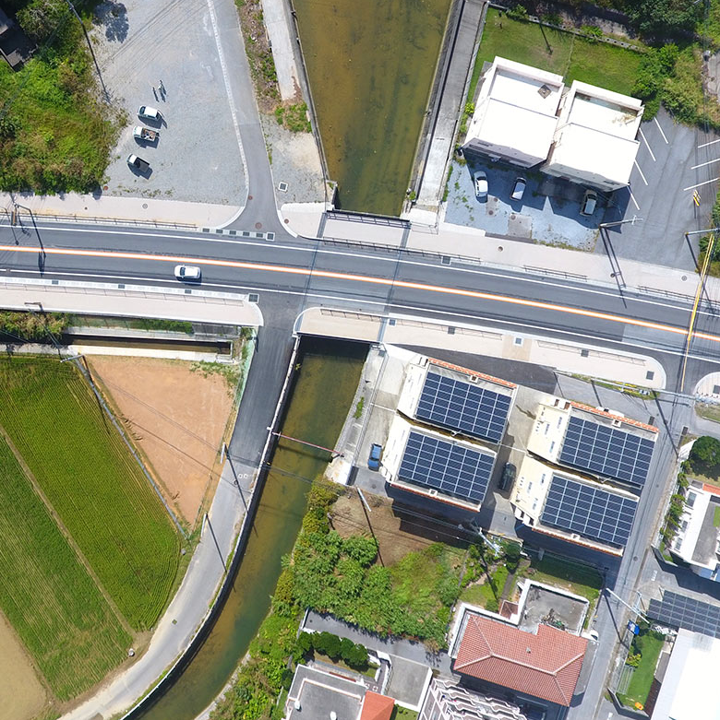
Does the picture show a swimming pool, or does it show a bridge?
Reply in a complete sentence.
The image shows a bridge.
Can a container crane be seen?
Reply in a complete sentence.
No, no container crane is visible in the scene.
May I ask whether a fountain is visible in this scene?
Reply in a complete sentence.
No, there is no fountain in the image.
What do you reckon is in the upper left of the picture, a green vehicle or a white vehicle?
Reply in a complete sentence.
You can see a white vehicle in the upper left of the picture.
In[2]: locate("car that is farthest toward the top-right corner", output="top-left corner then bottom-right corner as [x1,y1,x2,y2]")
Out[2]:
[582,189,600,215]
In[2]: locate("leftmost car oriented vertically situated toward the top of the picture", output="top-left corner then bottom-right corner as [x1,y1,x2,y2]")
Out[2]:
[475,170,489,197]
